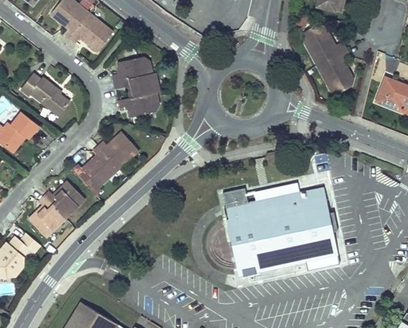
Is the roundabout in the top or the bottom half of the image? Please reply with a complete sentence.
Seen from above, the roundabout lies in the top half of the view.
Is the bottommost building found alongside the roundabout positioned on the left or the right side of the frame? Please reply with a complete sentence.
The bottommost building found alongside the roundabout is on the right side of the image.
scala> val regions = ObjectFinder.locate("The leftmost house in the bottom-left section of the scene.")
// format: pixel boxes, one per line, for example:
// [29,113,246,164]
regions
[0,231,42,282]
